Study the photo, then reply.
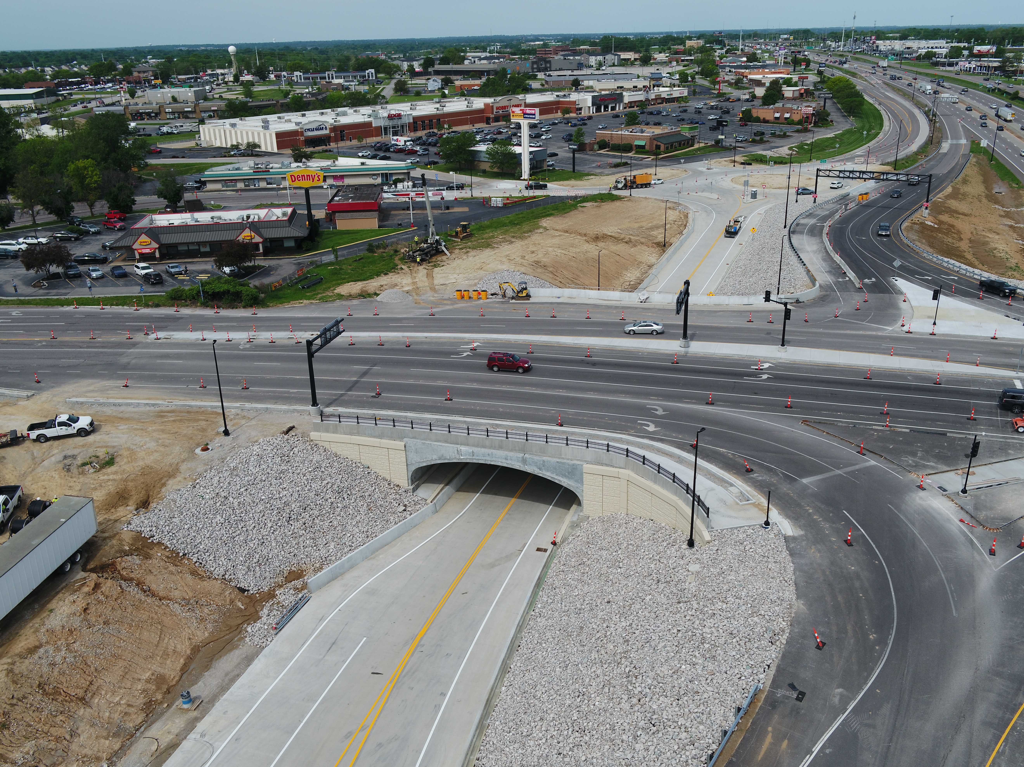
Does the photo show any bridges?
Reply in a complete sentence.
Yes, there's a bridge down there.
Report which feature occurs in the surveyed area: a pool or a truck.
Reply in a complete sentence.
Visible in the photo is a truck.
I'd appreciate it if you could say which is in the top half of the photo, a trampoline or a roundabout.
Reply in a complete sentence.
There is a roundabout in the top half of the photo.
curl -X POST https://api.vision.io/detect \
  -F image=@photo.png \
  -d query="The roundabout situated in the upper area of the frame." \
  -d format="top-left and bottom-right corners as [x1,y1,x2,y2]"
[387,157,865,210]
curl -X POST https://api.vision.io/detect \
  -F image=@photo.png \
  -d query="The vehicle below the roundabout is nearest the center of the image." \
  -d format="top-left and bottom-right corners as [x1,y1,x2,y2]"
[485,350,533,373]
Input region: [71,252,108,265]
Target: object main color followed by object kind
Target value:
black vehicle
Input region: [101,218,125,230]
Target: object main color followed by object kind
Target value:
red vehicle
